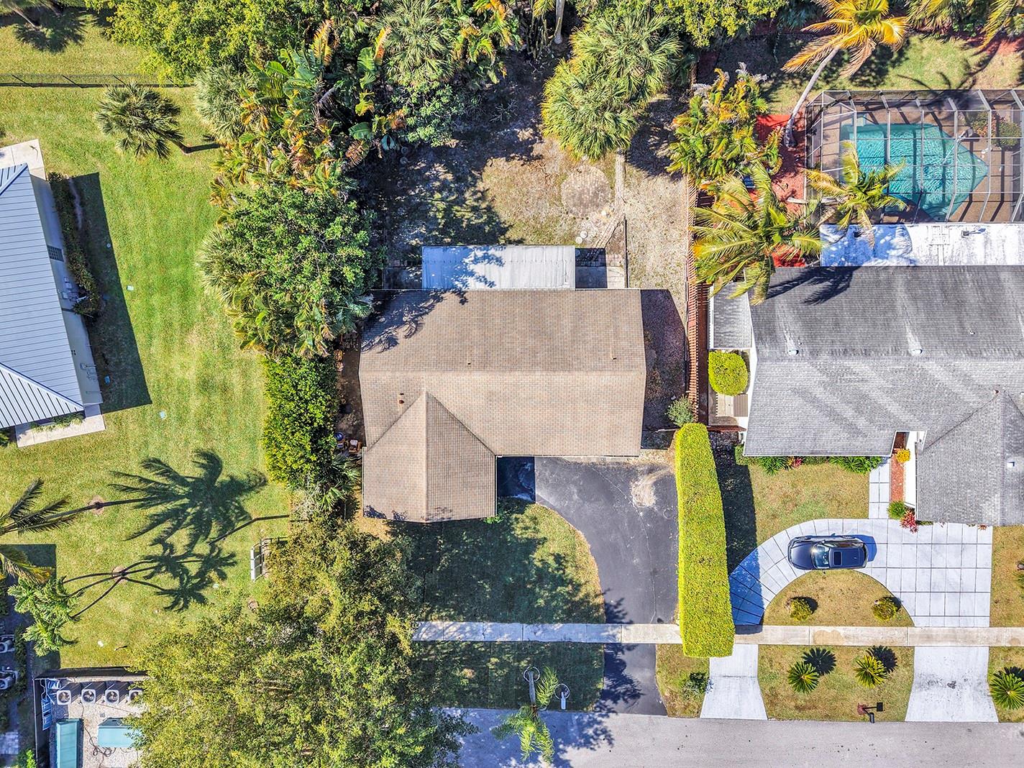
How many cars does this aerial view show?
one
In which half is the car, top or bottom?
bottom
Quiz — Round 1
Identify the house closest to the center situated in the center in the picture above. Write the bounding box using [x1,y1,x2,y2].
[359,289,645,521]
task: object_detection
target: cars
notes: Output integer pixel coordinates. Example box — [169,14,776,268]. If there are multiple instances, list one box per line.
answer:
[788,536,868,572]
